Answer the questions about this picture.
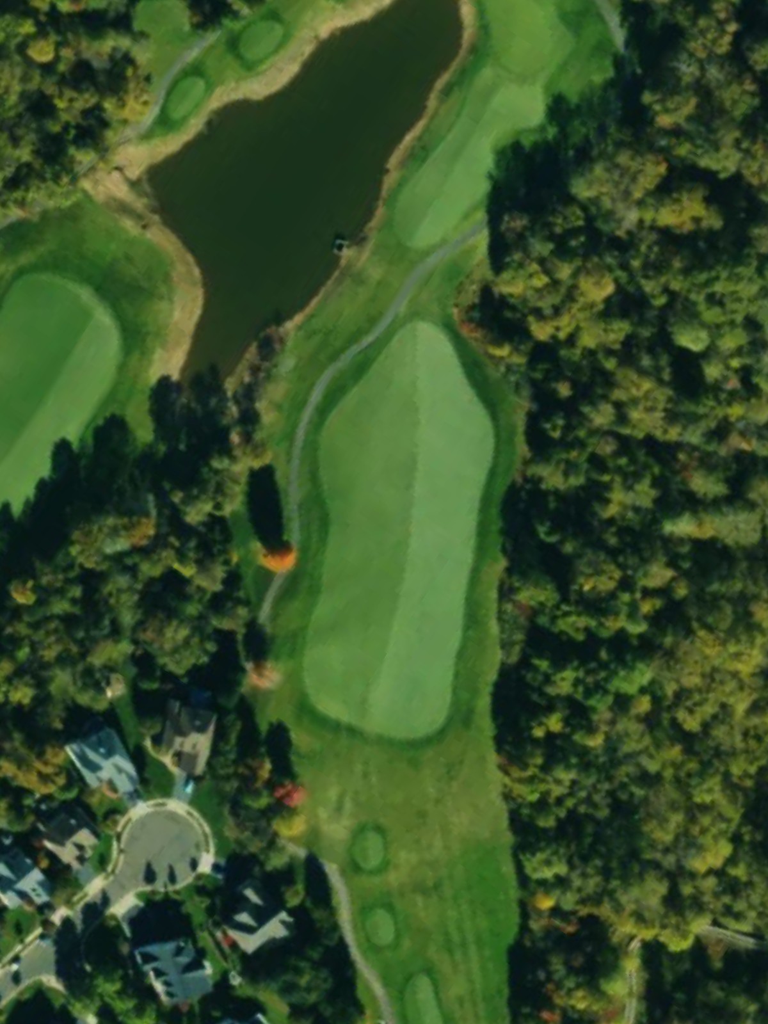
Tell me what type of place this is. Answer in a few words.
golf course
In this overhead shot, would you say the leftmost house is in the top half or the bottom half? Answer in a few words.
bottom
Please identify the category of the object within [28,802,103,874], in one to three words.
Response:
house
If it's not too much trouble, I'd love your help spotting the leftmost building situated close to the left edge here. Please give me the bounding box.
[0,838,58,911]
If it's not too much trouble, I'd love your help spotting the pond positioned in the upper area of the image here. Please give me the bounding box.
[111,0,463,420]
